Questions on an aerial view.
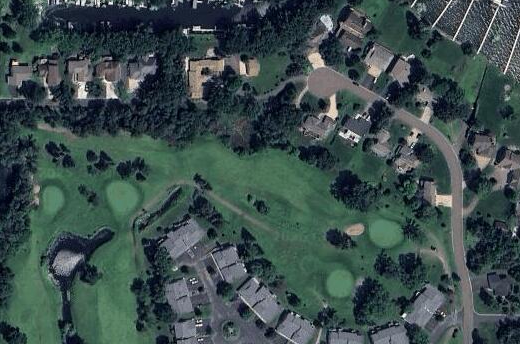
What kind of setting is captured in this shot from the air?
golf course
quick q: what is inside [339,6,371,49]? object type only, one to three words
house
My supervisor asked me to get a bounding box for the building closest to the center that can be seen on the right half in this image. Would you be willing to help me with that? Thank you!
[300,111,336,139]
